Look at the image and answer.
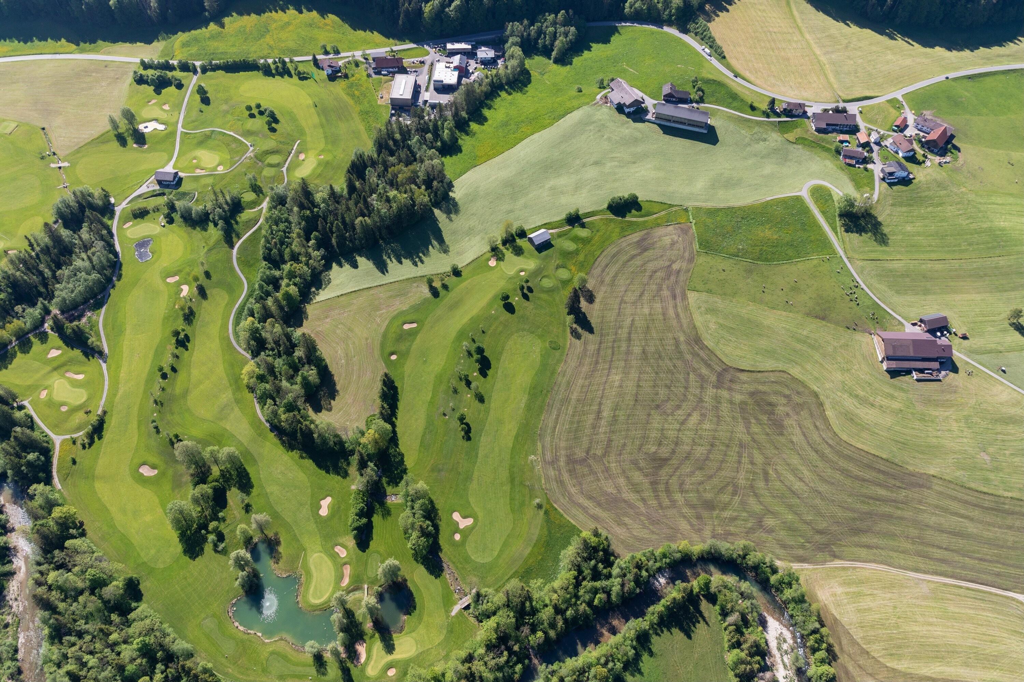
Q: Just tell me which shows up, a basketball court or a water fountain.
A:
water fountain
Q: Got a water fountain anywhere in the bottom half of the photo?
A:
Yes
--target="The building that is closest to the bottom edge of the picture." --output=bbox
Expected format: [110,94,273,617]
[874,331,953,373]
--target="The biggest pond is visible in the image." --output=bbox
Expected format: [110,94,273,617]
[231,542,337,647]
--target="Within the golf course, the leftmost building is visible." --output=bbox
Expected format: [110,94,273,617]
[154,169,179,185]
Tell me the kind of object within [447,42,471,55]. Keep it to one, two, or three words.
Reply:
building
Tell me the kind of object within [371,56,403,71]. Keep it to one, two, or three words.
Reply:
house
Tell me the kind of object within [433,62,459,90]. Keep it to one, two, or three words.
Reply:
building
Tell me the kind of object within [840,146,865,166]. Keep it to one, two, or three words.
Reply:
house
